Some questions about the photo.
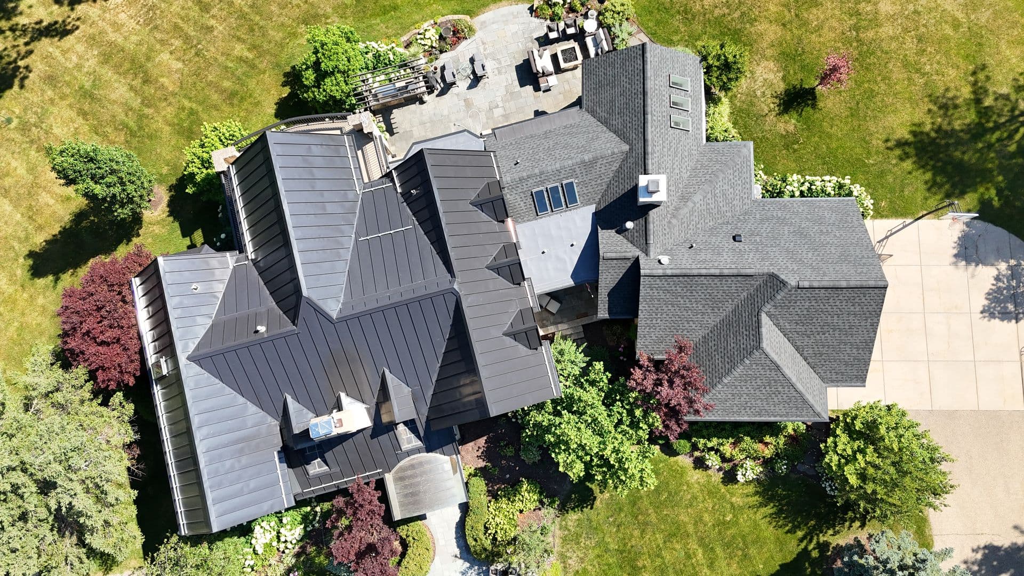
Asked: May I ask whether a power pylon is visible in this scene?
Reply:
No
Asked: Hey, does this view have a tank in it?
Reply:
No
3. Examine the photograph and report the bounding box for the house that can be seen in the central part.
[127,43,888,536]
